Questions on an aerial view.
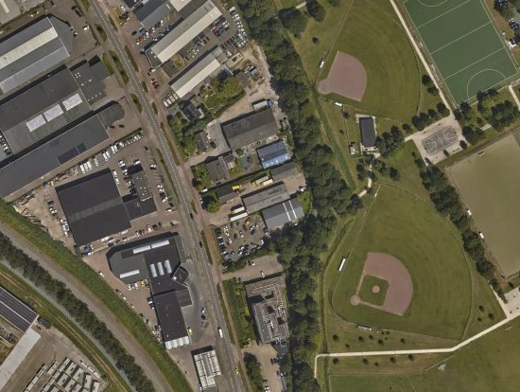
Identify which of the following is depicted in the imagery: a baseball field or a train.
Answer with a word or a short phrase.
baseball field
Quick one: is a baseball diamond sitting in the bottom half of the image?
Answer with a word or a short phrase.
Yes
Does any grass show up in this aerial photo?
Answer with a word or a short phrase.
Yes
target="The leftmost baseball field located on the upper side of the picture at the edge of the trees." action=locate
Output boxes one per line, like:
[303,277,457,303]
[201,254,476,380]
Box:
[317,0,422,116]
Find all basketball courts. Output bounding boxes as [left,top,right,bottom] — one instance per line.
[422,126,459,155]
